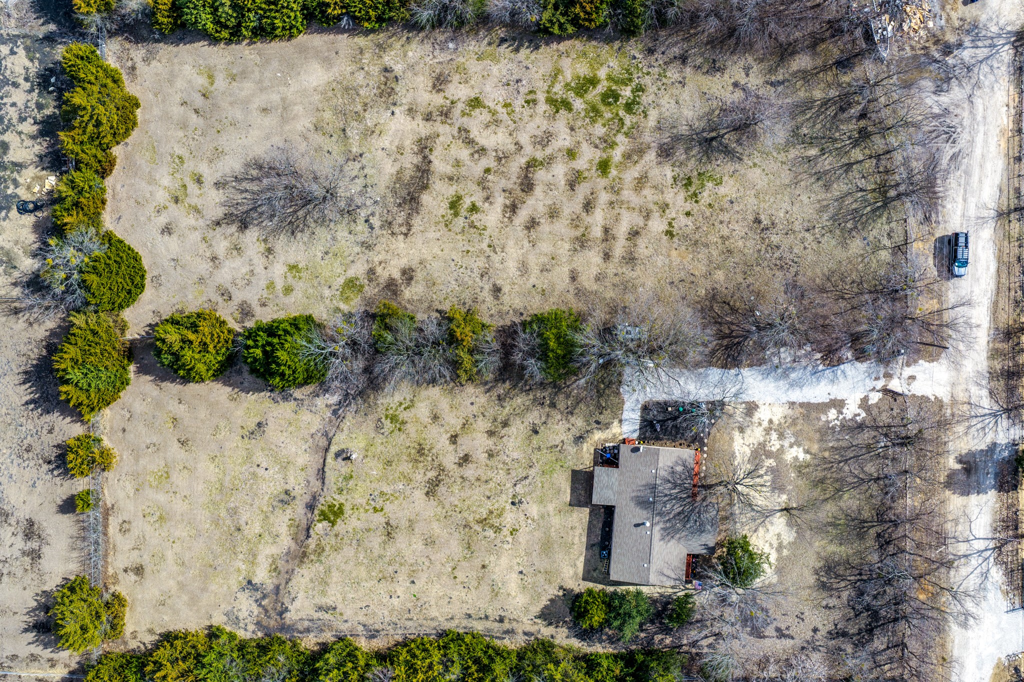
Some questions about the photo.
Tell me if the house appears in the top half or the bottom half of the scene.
bottom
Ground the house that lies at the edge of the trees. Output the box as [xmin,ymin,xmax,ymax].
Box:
[592,444,718,586]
